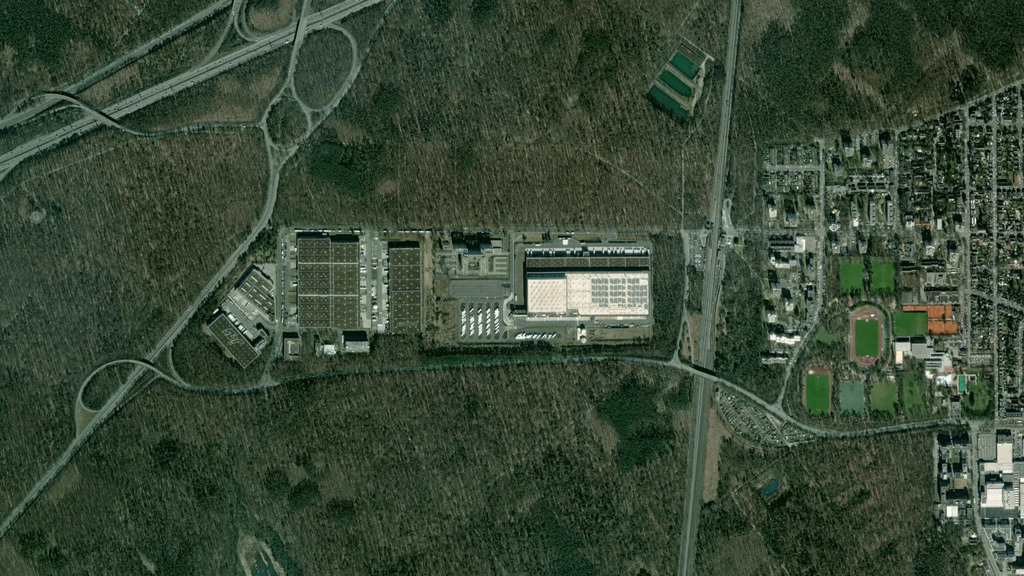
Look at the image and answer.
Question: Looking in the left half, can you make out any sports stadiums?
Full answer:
No, there is no sports stadium in the left half.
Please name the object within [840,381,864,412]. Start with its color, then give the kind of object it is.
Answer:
green soccer field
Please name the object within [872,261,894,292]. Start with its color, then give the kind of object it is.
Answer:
green soccer field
